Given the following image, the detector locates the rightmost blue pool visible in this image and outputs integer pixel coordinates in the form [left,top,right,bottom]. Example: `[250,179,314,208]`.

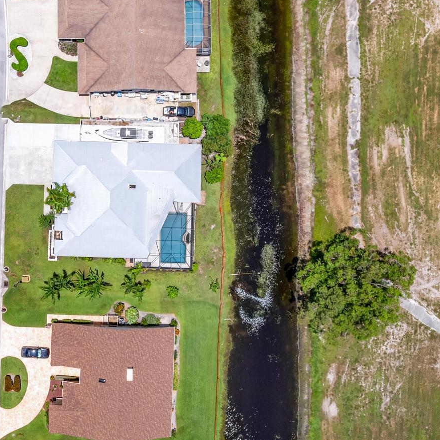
[186,0,205,48]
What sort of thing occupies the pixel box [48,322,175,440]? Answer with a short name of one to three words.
house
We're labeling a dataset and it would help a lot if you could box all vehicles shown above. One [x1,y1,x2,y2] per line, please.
[21,346,49,360]
[163,104,195,119]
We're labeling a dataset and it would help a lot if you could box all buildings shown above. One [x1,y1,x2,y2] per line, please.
[57,0,197,94]
[48,322,175,440]
[52,140,202,258]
